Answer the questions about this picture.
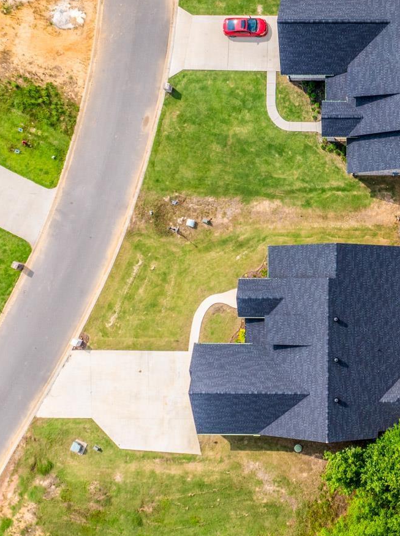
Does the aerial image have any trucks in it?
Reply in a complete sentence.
No, there isn't any truck down there.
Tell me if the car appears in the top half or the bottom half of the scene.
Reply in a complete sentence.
The car sits in the top half of the picture.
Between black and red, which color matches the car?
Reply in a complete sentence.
In this view, the car is red.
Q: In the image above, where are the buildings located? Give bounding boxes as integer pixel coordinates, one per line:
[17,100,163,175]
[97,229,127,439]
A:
[278,0,400,177]
[189,242,400,443]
